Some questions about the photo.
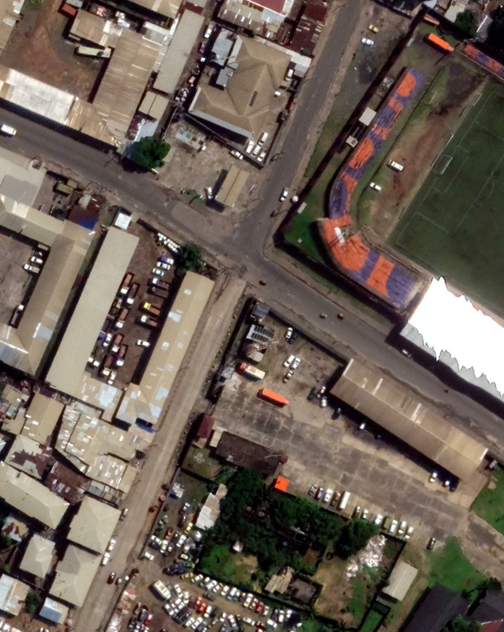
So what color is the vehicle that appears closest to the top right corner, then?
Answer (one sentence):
The vehicle that appears closest to the top right corner is orange.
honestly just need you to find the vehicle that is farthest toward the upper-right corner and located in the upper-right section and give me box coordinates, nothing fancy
[429,32,455,52]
